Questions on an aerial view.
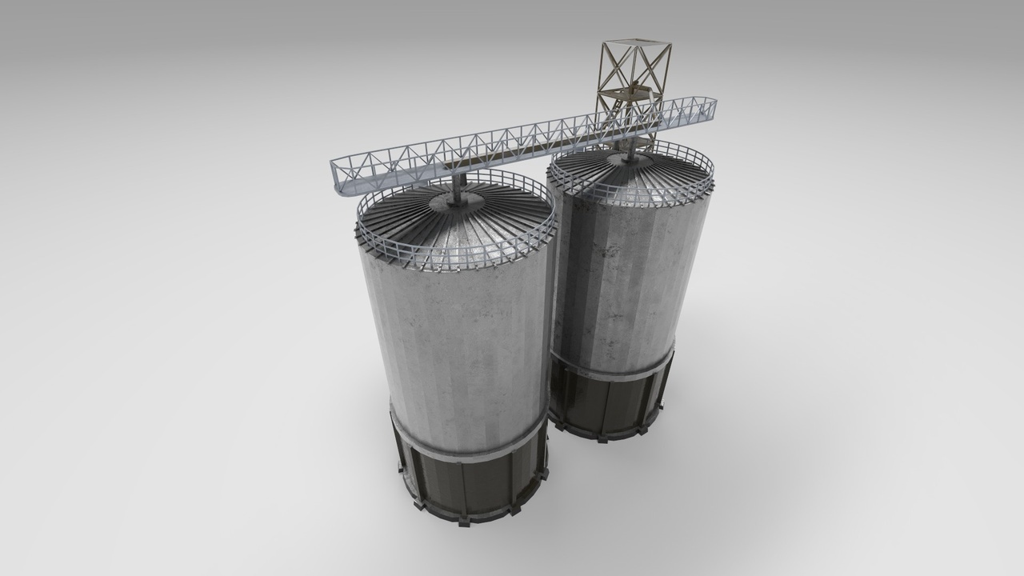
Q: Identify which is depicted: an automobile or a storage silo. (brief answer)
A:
storage silo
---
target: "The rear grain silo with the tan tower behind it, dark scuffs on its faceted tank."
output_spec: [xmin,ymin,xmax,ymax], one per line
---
[545,137,716,444]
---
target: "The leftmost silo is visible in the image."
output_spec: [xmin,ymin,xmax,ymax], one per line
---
[353,169,560,527]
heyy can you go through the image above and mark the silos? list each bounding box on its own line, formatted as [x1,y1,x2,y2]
[545,137,716,444]
[353,169,560,527]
